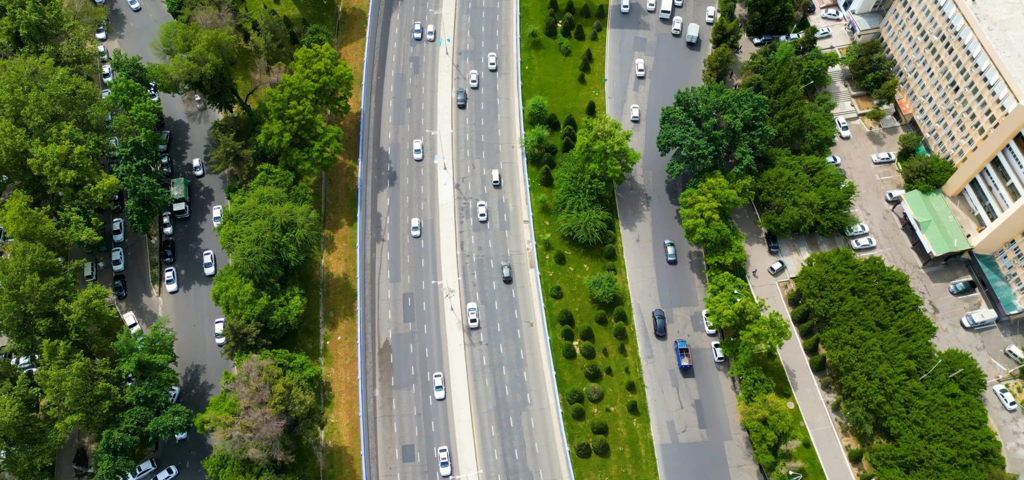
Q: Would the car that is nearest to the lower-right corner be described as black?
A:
No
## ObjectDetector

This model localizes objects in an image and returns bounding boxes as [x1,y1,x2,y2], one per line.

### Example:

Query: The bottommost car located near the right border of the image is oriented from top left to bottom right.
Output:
[991,383,1019,413]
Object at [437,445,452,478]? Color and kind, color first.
white car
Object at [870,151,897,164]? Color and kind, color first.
white vehicle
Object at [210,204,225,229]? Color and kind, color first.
white car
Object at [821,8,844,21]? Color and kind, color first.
white vehicle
